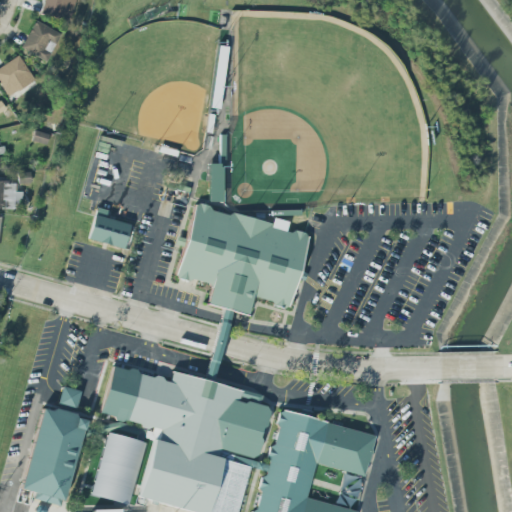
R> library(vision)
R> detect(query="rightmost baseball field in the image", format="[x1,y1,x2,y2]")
[228,10,428,206]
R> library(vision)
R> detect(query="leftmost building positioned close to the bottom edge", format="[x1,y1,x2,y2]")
[25,405,92,506]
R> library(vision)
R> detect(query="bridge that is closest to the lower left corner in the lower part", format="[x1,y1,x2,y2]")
[209,310,235,384]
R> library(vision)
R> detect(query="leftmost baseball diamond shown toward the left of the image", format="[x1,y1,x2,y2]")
[84,24,219,156]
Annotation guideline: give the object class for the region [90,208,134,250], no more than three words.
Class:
building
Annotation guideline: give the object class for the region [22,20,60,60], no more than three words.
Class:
house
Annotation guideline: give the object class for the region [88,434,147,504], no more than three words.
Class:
building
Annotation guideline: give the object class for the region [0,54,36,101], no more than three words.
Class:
house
